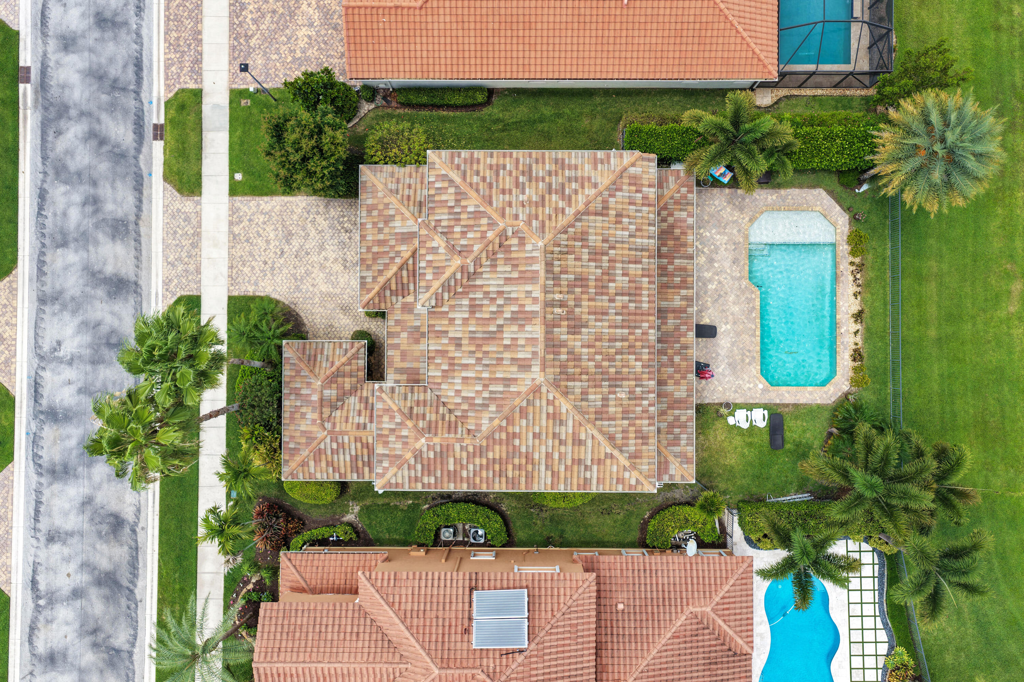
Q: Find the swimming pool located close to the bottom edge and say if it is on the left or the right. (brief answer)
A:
right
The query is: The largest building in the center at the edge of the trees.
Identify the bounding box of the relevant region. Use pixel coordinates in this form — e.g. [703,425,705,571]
[281,148,697,494]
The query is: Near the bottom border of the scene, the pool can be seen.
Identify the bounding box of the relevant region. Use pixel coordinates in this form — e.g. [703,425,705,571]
[753,565,846,682]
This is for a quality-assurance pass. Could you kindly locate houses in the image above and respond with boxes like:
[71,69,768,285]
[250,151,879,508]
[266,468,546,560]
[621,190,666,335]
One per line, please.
[281,148,697,494]
[341,0,781,88]
[250,542,756,682]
